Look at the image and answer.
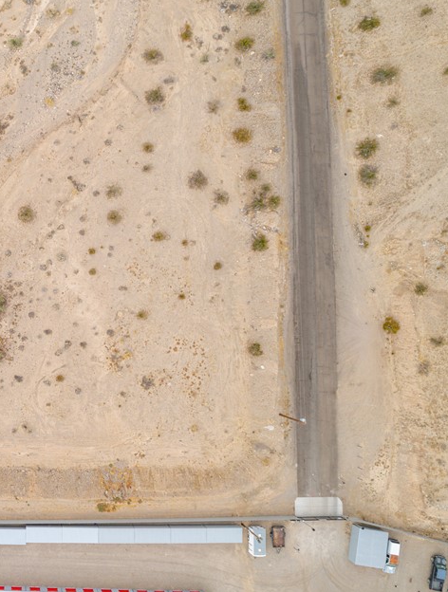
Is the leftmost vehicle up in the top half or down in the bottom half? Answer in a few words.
bottom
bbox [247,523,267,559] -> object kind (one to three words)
vehicle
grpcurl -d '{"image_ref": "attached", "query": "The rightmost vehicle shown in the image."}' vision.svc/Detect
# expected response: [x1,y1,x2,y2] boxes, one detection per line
[431,554,448,592]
